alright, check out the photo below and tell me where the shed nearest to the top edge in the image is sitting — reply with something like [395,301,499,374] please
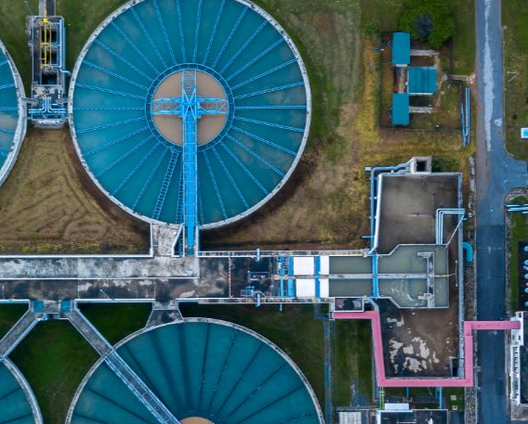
[392,32,409,66]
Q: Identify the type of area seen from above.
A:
industrial area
